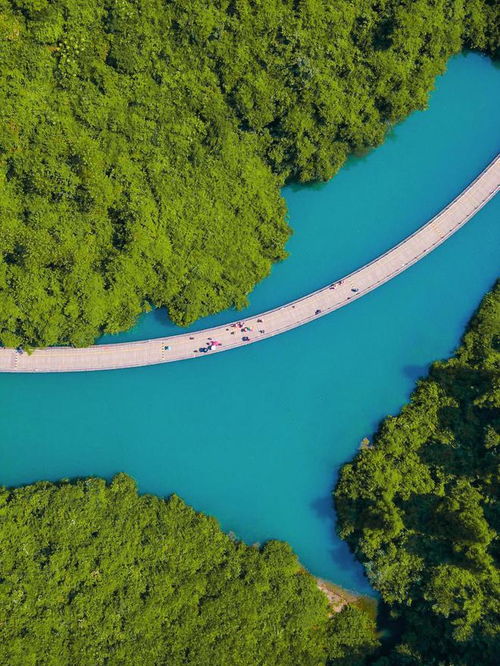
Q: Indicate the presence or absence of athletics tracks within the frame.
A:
No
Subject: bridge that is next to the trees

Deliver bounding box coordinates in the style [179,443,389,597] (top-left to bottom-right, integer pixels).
[0,152,500,374]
